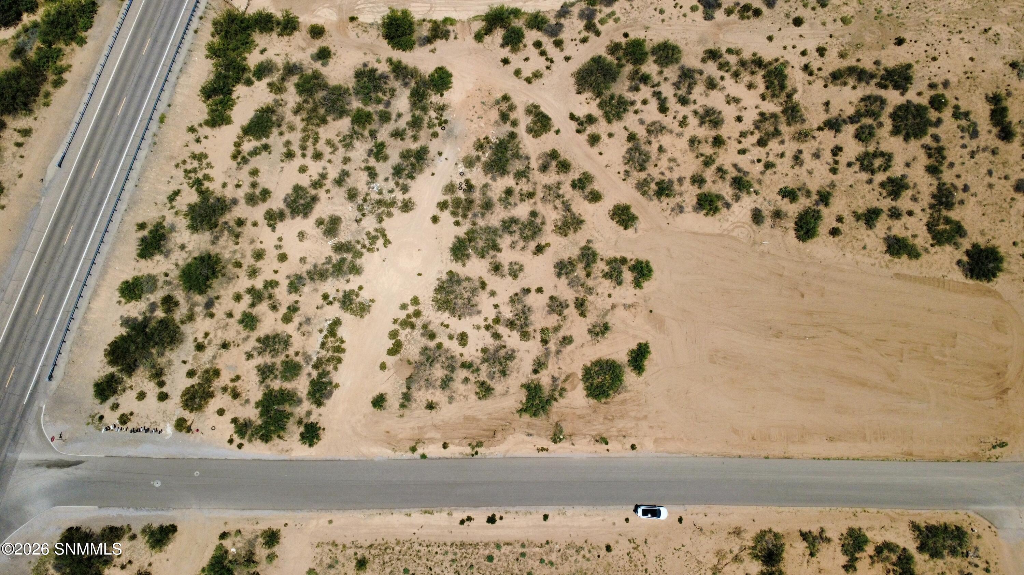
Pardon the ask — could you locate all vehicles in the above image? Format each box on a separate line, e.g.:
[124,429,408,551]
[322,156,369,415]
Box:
[635,505,667,521]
